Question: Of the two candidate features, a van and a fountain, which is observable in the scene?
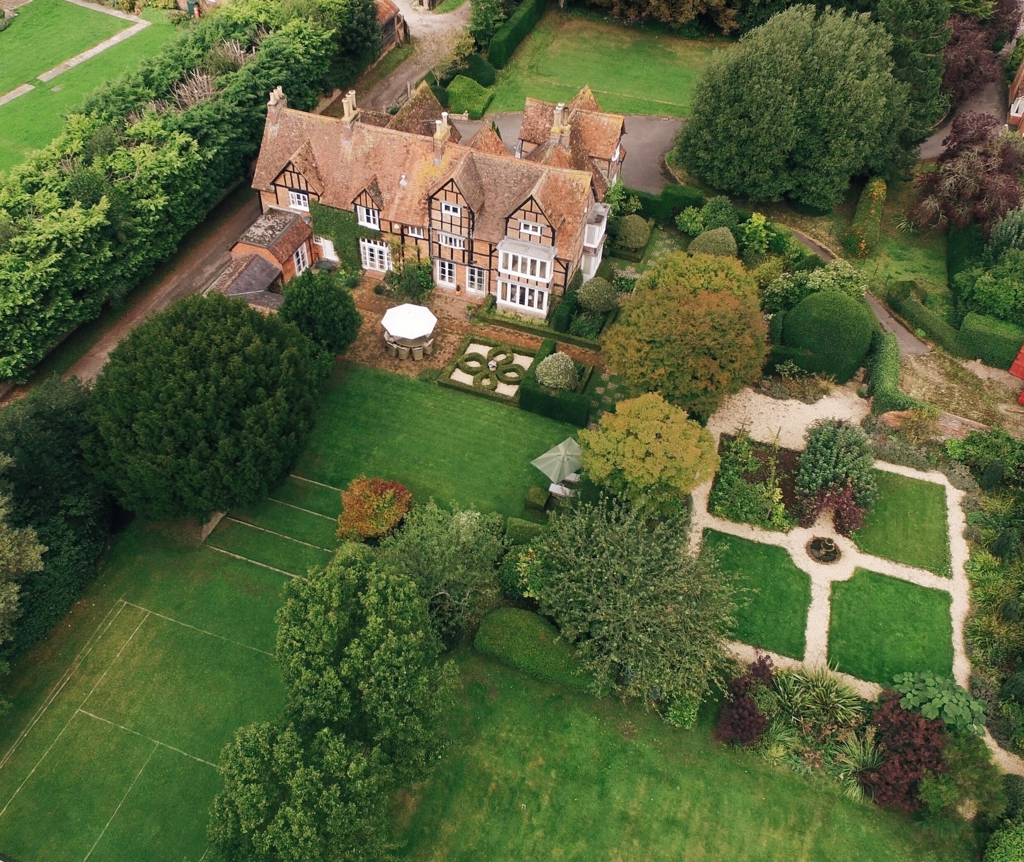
fountain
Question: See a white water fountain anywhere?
No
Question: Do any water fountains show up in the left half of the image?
No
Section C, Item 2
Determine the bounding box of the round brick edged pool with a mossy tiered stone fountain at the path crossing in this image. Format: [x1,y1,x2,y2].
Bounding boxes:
[805,535,842,565]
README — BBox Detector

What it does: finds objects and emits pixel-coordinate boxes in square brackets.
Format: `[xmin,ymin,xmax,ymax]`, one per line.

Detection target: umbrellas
[531,436,585,484]
[380,297,438,334]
